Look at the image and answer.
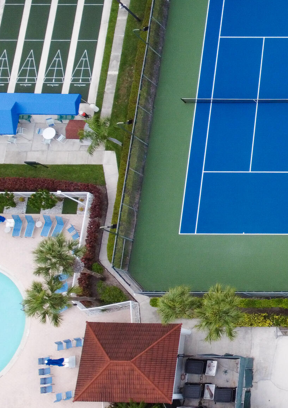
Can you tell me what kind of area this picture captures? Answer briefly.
sports ground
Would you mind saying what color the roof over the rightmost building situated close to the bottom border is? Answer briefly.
red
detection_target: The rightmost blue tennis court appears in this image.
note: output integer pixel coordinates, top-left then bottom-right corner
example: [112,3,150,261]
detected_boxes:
[180,0,288,234]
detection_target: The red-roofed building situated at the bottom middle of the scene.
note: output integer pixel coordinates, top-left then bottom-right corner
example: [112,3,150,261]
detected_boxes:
[72,321,194,404]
